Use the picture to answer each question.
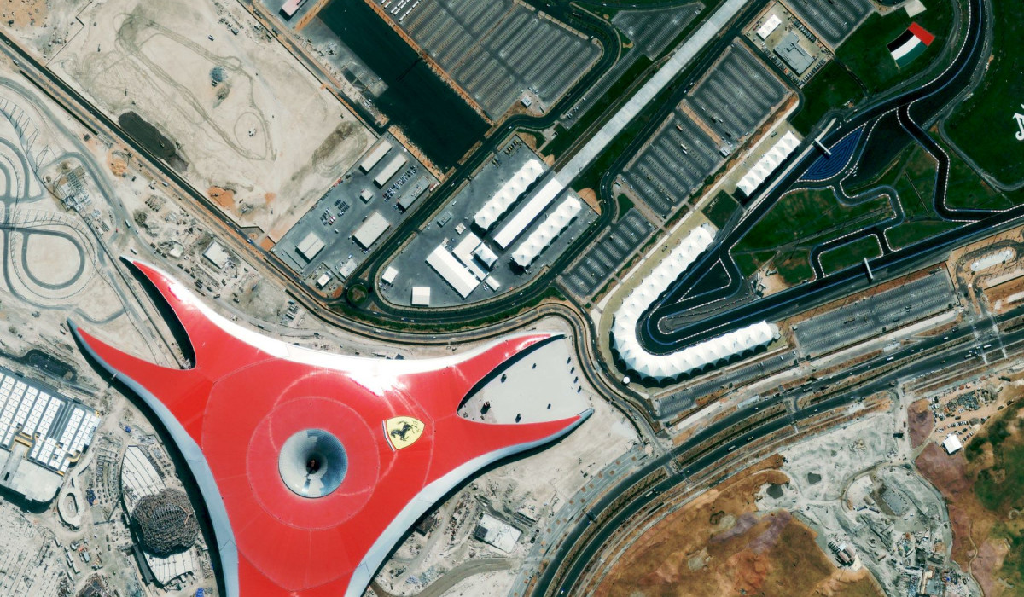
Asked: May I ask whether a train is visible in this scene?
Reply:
No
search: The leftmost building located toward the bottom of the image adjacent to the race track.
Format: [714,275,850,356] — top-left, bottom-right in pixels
[56,257,594,597]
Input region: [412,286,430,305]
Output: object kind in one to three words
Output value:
shed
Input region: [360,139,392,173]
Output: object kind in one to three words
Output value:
shed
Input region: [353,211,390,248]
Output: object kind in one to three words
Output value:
building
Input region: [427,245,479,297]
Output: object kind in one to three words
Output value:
building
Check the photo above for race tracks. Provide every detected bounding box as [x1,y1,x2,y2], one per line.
[635,0,1024,355]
